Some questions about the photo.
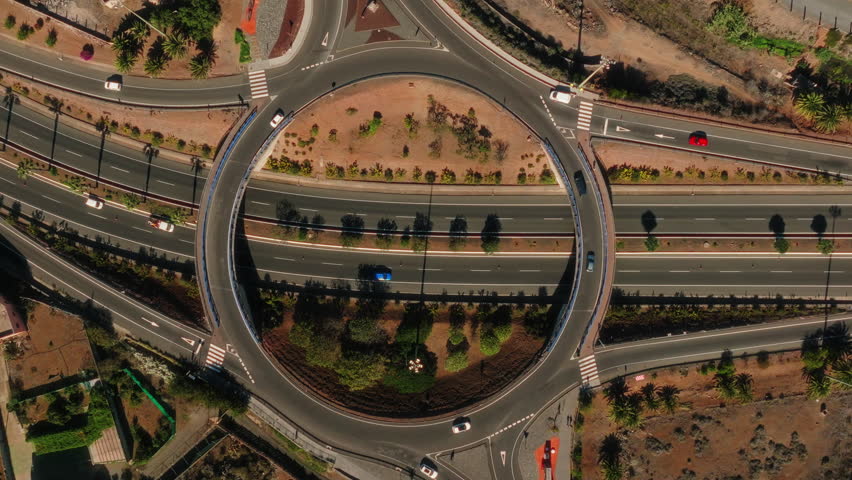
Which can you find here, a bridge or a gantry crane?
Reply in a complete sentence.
The image shows a bridge.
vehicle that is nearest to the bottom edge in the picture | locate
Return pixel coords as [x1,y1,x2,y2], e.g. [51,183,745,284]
[419,463,438,478]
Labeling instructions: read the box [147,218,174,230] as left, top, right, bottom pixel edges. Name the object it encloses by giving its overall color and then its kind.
white vehicle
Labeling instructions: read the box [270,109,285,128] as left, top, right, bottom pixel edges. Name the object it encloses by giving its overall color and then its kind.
white car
